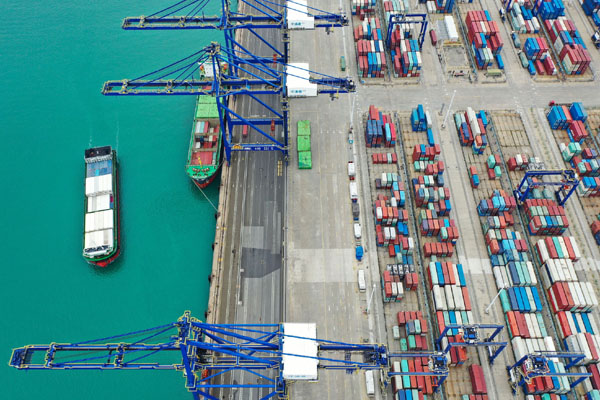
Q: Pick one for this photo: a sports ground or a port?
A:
port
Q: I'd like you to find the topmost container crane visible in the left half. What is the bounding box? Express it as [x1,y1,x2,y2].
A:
[120,0,354,102]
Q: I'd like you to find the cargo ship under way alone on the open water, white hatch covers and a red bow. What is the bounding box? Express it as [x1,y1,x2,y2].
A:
[82,141,121,266]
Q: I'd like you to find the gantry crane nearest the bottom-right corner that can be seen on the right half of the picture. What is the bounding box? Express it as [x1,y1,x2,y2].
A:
[511,351,596,392]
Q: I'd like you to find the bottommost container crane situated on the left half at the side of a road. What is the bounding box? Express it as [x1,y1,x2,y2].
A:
[5,312,388,400]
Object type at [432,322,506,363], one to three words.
container crane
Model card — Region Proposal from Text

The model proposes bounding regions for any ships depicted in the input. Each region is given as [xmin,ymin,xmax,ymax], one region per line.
[82,141,121,266]
[186,52,224,189]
